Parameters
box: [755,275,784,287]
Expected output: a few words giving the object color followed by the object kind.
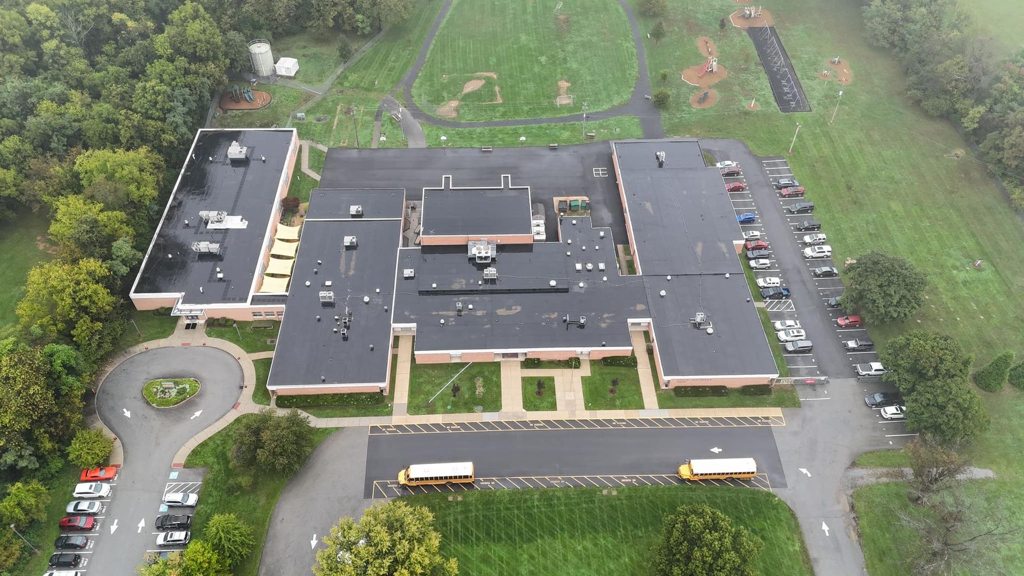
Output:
white vehicle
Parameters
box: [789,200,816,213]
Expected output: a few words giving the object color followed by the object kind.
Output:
gray vehicle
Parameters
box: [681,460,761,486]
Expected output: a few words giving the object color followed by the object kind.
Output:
white bus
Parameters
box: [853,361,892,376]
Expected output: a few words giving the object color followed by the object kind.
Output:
white vehicle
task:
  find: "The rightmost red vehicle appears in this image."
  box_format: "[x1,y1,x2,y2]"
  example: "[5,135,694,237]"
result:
[835,314,864,328]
